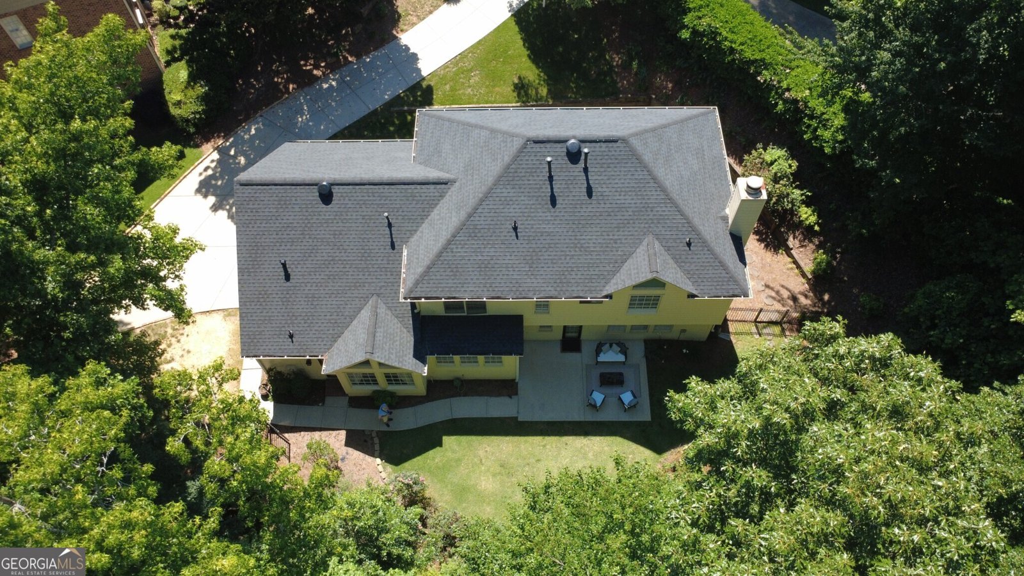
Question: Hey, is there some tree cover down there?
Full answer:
Yes, tree cover shows up in the scene.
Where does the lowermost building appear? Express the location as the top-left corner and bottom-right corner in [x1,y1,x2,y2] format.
[236,106,768,395]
